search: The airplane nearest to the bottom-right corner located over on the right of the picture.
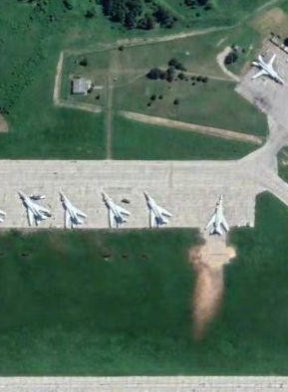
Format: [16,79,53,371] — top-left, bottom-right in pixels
[204,194,230,237]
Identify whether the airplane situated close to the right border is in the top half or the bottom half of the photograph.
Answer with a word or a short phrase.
top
